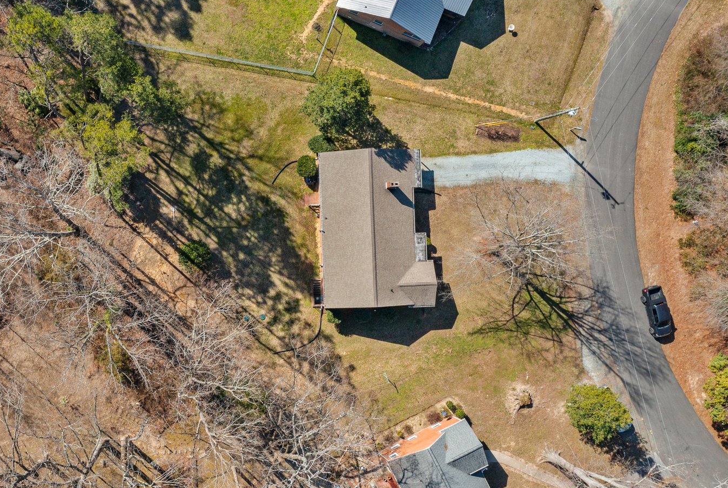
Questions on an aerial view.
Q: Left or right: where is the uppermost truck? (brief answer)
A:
right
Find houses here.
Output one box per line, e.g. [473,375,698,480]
[381,415,494,488]
[334,0,472,49]
[315,149,437,309]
